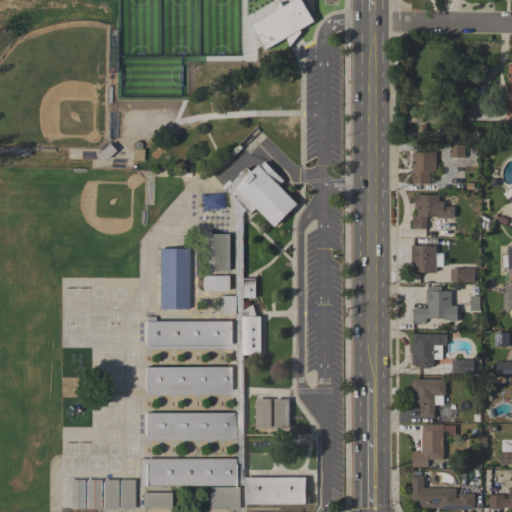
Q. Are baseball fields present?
Yes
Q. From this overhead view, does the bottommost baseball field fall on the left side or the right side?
left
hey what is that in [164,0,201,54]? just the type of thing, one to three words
soccer field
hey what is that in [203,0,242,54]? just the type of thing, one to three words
soccer field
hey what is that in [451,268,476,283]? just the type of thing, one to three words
building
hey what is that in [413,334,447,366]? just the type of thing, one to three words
house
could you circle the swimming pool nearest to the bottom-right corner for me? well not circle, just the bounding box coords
[434,471,458,486]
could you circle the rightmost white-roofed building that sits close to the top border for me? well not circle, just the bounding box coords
[249,0,314,50]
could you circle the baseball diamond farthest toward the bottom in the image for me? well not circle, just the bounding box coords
[81,174,145,234]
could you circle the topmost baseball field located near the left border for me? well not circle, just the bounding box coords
[0,22,110,147]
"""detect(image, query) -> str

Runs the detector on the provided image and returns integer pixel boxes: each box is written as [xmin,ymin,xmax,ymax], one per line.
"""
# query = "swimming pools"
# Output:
[490,400,512,420]
[434,471,458,486]
[447,338,477,360]
[500,156,512,189]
